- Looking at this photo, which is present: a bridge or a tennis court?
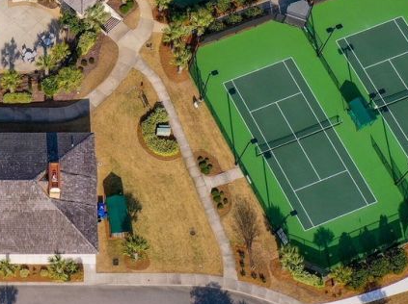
tennis court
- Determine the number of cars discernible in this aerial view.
zero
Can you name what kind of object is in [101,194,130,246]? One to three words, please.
shed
